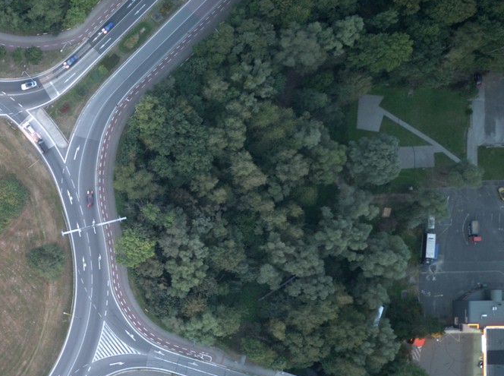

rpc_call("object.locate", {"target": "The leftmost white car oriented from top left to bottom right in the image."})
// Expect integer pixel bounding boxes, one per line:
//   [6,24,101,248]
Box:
[23,120,36,135]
